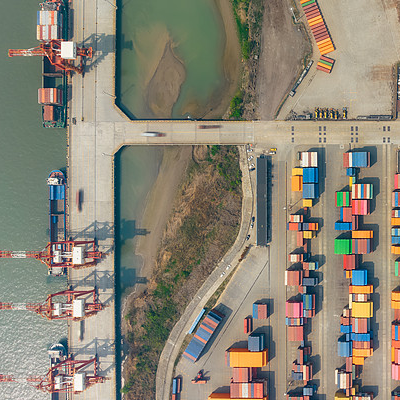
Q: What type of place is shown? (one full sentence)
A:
This looks like a port.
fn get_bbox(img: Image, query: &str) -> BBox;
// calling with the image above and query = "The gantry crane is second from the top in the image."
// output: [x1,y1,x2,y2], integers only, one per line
[0,232,96,270]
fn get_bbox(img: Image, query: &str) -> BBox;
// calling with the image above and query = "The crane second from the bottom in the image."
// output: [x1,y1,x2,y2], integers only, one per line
[0,280,96,322]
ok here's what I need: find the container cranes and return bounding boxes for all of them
[11,39,90,79]
[0,232,96,270]
[0,348,96,395]
[0,280,96,322]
